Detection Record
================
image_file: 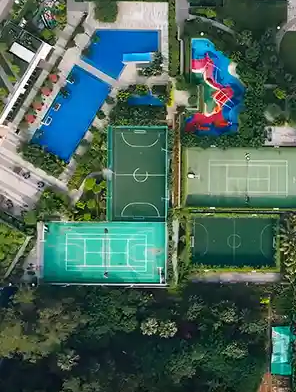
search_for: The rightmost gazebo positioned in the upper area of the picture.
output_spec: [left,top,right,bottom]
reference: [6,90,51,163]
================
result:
[75,33,91,48]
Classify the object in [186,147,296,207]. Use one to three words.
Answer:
tennis court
